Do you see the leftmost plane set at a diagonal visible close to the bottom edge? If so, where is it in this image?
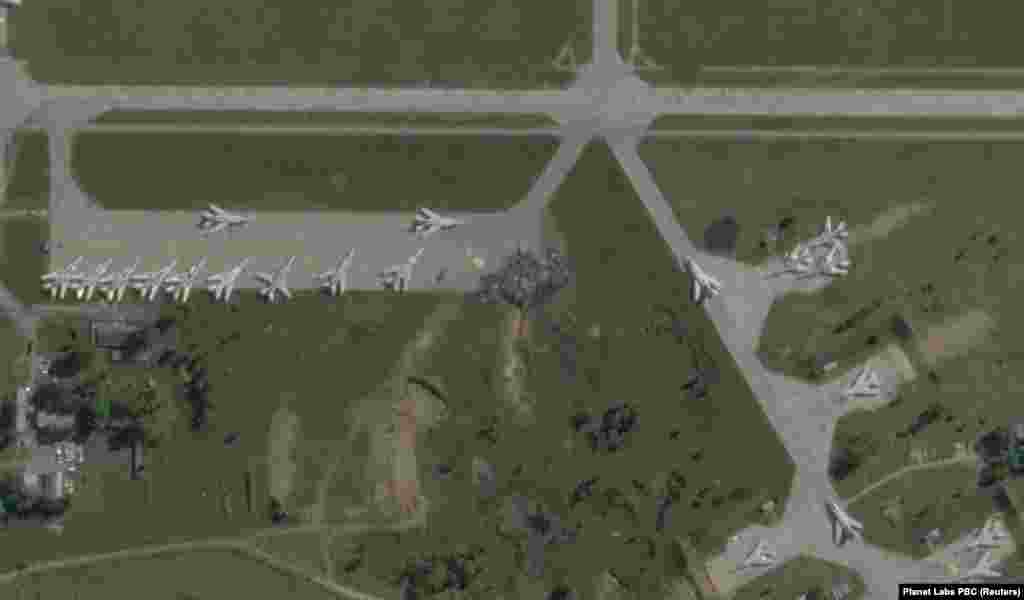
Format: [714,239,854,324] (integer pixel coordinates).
[734,537,780,571]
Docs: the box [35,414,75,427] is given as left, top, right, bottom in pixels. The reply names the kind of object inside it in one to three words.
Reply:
house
